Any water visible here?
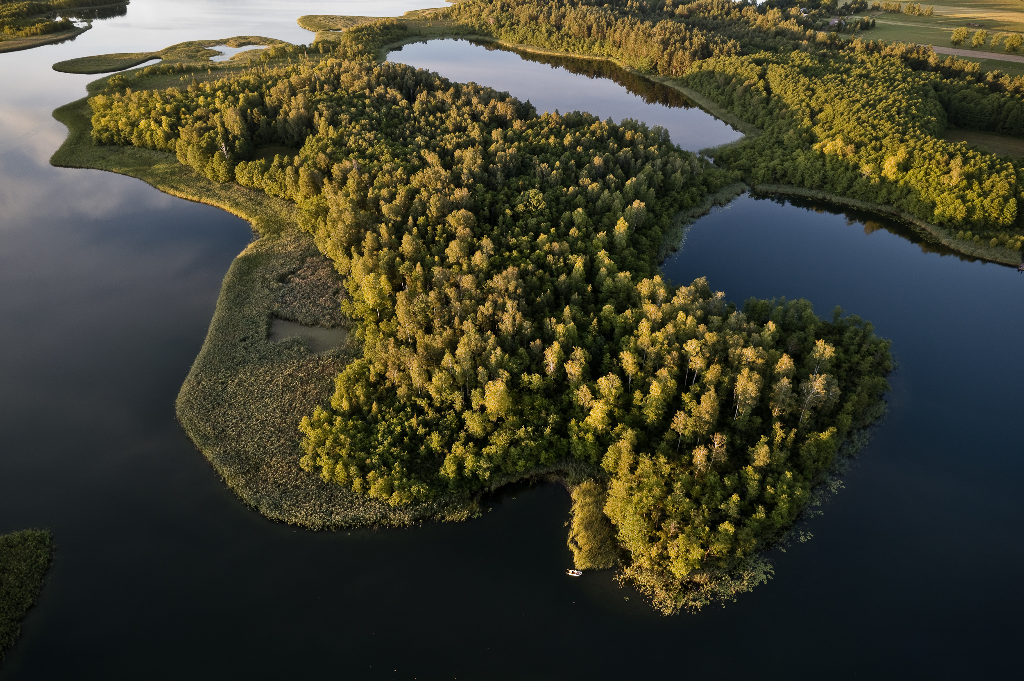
Yes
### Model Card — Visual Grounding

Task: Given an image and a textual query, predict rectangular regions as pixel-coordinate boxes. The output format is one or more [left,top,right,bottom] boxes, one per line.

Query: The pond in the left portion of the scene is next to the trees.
[267,317,353,361]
